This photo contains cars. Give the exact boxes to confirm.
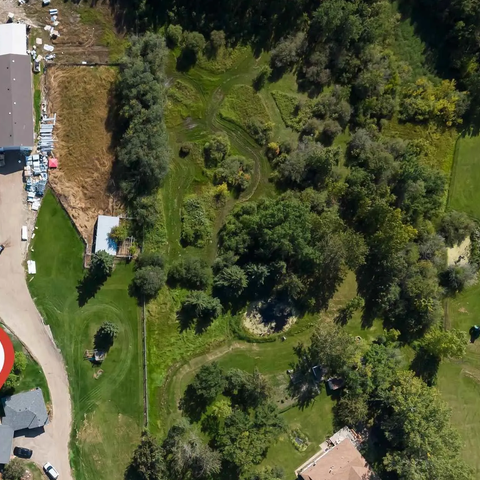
[13,447,33,457]
[44,462,59,480]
